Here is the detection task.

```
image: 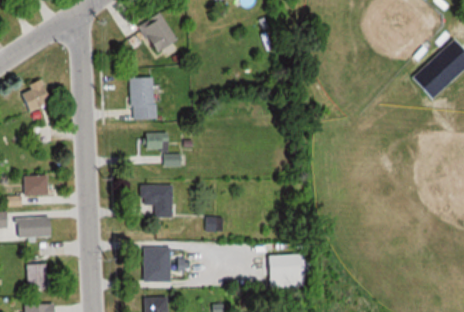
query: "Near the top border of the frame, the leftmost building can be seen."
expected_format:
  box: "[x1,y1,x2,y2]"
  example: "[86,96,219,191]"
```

[139,15,176,52]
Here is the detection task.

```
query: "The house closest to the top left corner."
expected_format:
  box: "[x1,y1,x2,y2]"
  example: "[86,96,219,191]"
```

[24,81,50,112]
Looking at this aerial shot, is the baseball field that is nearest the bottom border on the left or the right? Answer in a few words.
right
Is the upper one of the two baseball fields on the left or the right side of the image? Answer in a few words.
right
